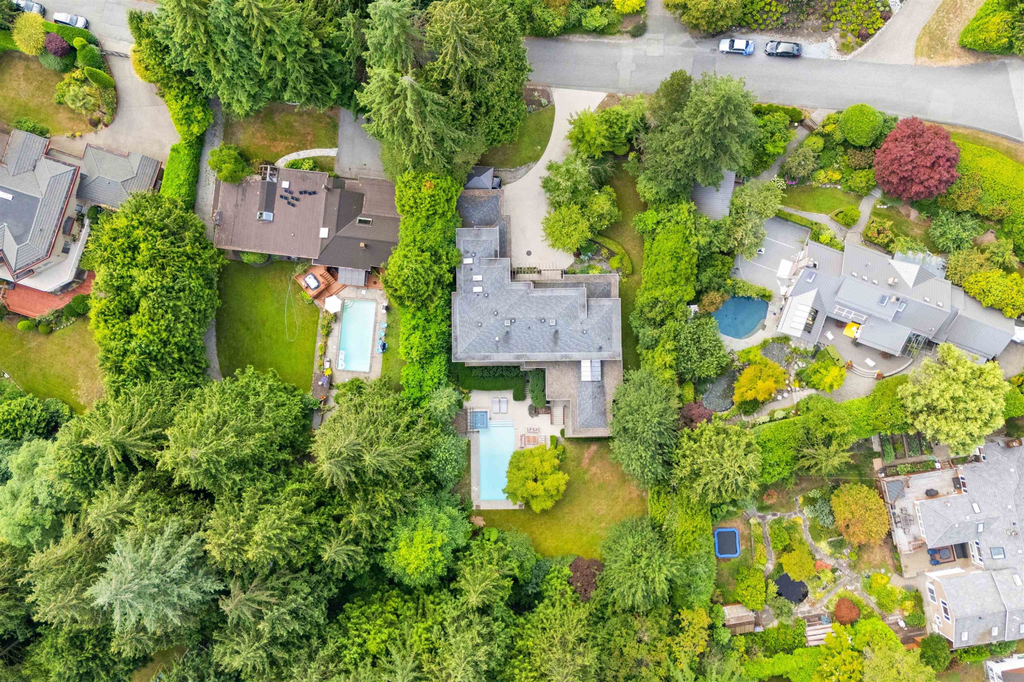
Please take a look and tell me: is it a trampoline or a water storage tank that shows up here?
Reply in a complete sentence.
There is a trampoline in the scene.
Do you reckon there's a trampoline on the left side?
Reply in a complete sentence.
No, I can find no trampoline on the left side.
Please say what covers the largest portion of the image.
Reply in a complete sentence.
What you mostly see from above here is trees.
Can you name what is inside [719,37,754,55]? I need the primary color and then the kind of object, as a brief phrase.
white car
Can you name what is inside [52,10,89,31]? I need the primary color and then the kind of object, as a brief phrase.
white car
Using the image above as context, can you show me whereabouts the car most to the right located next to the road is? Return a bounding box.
[764,40,804,57]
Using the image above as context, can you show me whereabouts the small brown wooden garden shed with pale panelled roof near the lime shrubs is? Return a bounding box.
[722,604,754,635]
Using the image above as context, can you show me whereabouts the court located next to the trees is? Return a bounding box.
[728,215,811,303]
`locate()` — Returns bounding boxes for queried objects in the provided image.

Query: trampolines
[716,529,742,560]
